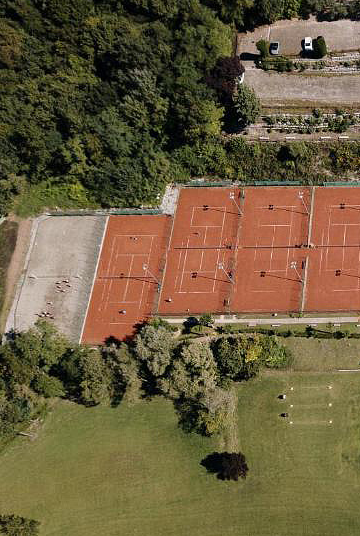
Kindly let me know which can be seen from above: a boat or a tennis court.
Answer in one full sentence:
Looking from above, you can make out a tennis court.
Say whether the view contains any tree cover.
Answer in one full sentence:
Yes, tree cover can be seen from above here.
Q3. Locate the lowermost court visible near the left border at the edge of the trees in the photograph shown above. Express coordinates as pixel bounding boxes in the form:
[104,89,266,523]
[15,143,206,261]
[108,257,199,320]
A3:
[9,216,105,344]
